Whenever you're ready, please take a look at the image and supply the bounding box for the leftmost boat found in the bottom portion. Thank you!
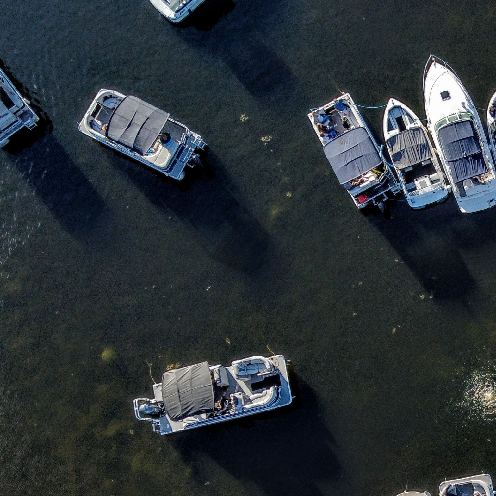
[133,351,297,441]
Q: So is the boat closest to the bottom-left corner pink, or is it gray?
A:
gray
